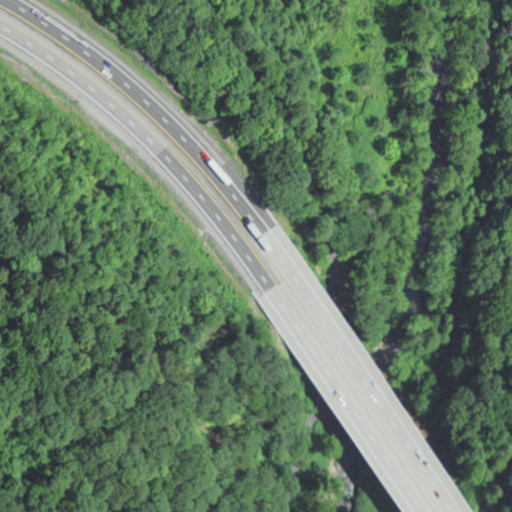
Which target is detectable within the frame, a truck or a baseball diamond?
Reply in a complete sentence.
I can see a truck in this picture.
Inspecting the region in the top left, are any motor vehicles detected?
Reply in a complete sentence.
Yes, in the top left there is a motor vehicle.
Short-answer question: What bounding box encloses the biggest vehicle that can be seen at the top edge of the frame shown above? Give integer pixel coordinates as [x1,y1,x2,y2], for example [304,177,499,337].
[35,10,78,41]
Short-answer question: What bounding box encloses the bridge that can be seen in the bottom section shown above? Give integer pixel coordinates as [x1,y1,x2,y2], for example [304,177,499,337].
[250,208,474,512]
